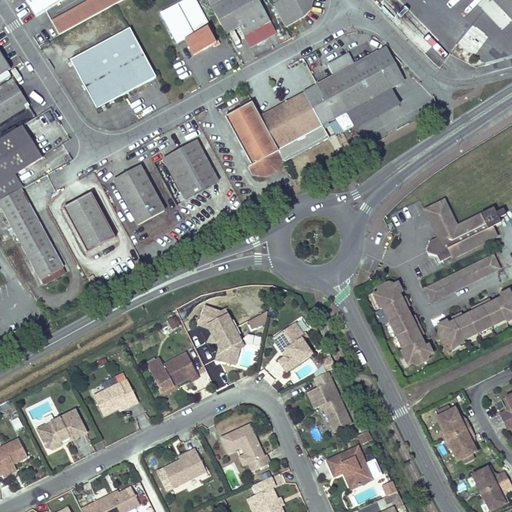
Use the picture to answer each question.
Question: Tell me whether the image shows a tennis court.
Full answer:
No, I can see no tennis court in this picture.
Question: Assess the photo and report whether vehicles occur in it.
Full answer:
Yes, the image includes a vehicle.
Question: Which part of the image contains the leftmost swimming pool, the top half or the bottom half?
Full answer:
It is in the bottom half that the leftmost swimming pool appears.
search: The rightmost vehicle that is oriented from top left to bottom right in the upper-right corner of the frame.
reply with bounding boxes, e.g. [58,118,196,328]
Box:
[424,32,448,58]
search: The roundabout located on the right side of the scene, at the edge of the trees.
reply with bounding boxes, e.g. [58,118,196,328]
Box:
[291,216,341,266]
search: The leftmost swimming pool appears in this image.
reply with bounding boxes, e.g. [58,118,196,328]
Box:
[28,400,53,420]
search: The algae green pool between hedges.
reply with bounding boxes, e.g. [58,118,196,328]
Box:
[225,468,242,490]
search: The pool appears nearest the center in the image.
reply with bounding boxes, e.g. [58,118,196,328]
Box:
[240,350,256,368]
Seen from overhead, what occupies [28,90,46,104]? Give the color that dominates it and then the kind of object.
white vehicle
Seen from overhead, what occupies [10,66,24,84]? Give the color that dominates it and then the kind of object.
white vehicle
